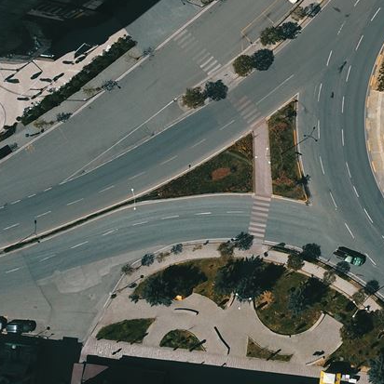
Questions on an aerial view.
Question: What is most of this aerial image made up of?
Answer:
paved ground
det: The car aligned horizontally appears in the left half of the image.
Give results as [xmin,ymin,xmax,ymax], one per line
[4,321,34,335]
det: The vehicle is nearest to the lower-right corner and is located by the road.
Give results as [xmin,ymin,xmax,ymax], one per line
[335,249,363,268]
